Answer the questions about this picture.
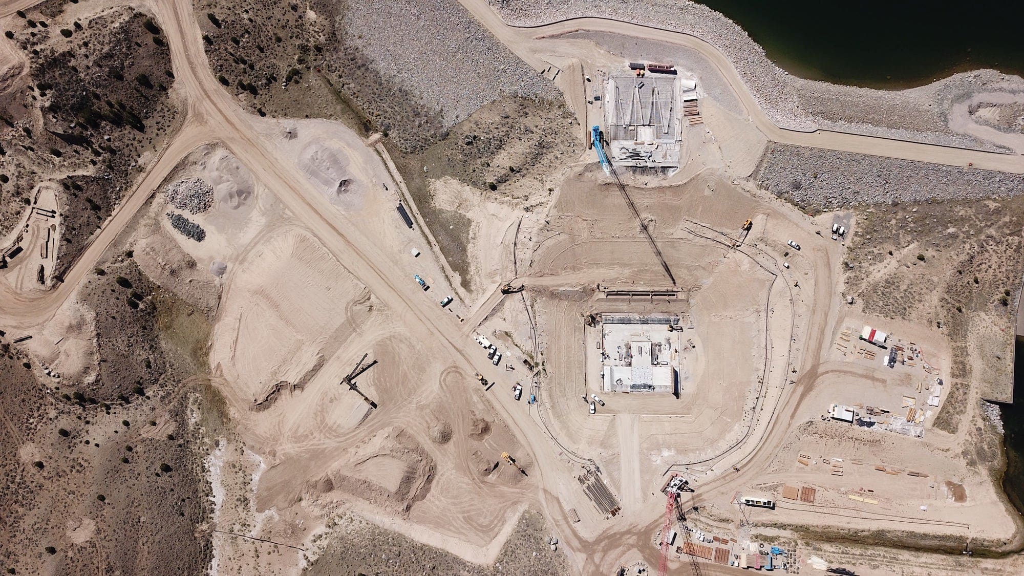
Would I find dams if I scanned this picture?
Yes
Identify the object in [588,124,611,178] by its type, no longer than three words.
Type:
crane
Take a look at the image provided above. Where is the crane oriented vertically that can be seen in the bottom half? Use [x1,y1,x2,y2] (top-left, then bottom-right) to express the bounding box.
[653,470,685,576]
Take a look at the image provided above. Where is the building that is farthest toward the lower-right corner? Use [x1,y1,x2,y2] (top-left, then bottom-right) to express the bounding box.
[828,404,853,421]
